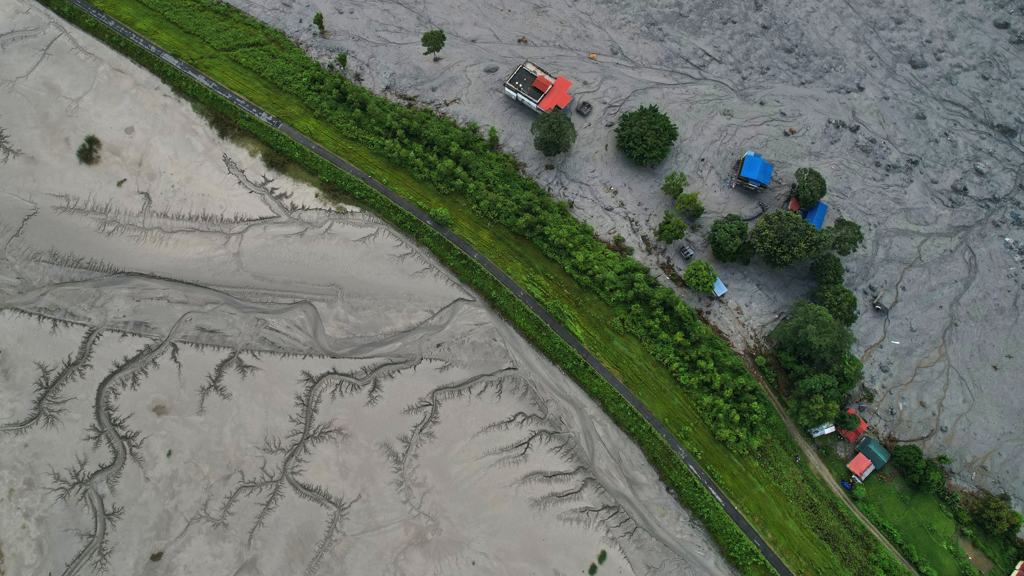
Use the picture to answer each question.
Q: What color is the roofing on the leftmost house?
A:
red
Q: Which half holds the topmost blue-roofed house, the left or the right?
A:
right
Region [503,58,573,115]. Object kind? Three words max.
house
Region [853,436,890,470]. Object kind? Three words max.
building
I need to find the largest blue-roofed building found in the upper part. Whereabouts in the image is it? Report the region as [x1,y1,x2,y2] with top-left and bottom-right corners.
[735,151,774,191]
